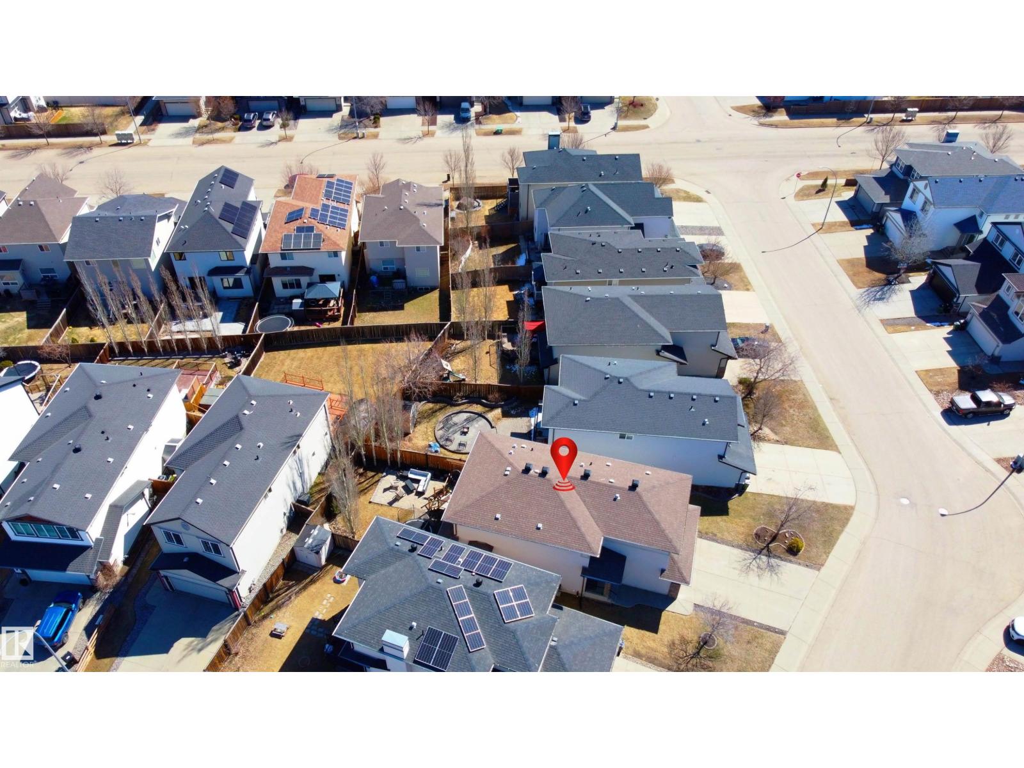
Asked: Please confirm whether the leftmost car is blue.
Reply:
Yes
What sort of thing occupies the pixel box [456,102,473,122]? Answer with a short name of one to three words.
vehicle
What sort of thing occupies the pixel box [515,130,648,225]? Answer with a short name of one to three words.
house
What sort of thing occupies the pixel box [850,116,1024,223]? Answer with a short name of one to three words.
house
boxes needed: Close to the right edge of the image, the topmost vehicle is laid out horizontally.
[948,387,1021,419]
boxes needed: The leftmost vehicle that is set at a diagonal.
[25,585,85,652]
